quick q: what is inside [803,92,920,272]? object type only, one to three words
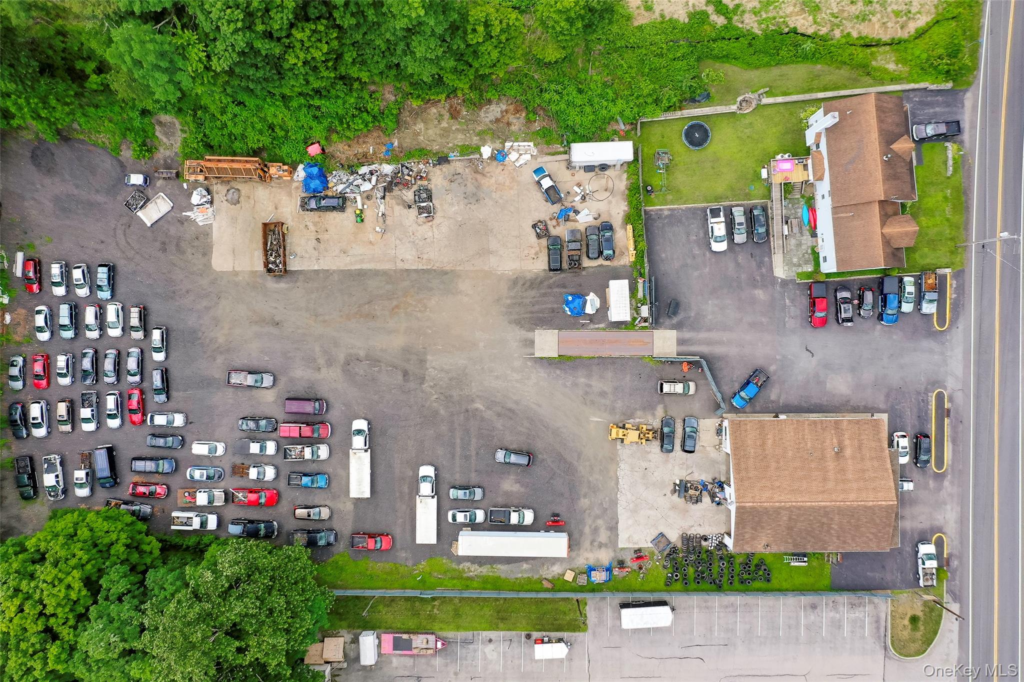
house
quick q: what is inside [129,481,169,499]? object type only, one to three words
car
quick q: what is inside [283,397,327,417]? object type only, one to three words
vehicle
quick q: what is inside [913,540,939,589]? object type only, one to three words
truck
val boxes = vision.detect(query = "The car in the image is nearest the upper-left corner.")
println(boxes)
[125,171,151,188]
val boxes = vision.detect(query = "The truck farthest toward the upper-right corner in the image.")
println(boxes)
[910,118,963,143]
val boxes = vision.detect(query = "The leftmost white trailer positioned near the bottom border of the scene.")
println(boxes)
[359,626,381,666]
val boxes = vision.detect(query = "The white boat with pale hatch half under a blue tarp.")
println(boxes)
[582,291,602,314]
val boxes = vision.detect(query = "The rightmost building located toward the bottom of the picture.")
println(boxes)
[720,418,900,553]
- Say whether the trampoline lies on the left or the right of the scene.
right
